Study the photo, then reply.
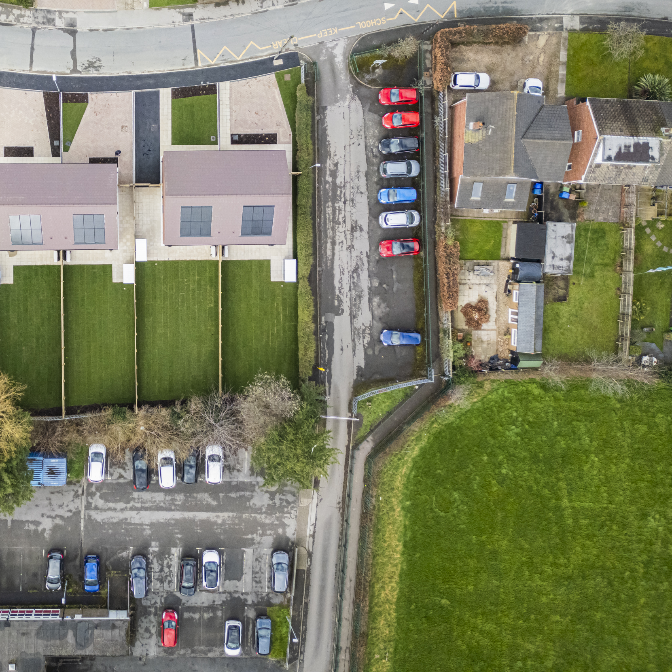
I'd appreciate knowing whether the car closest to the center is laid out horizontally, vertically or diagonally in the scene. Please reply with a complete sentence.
In this picture, the car closest to the center is oriented horizontally.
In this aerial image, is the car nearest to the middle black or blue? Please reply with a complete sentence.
From above, the car nearest to the middle appears blue.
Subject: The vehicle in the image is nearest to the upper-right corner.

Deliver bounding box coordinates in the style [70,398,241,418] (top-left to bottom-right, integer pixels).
[522,79,544,96]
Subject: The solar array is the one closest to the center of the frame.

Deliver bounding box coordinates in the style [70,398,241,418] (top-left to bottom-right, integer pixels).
[242,206,273,237]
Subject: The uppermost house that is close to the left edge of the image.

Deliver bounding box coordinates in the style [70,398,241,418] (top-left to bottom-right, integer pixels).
[0,163,118,251]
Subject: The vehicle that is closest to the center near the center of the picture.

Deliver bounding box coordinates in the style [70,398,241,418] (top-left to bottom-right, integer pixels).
[379,328,420,348]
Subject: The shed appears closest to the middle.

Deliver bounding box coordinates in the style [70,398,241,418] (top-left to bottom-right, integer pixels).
[281,259,296,282]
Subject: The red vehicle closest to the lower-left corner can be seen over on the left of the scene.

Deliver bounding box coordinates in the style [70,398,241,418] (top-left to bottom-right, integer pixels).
[160,607,178,648]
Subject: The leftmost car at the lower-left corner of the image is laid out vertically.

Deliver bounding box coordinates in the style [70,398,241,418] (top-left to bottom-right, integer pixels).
[44,550,63,590]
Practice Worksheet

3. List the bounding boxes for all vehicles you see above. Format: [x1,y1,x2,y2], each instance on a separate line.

[377,186,416,205]
[378,135,419,155]
[254,614,274,656]
[377,86,418,106]
[128,554,149,598]
[182,447,200,484]
[224,618,243,656]
[131,448,149,490]
[380,111,419,130]
[378,238,420,258]
[379,328,420,348]
[270,550,290,593]
[86,442,106,483]
[522,79,544,96]
[204,444,223,484]
[160,607,178,648]
[44,550,63,590]
[177,555,197,595]
[156,447,176,488]
[378,159,420,178]
[378,209,420,229]
[82,554,102,592]
[202,548,220,589]
[453,71,490,90]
